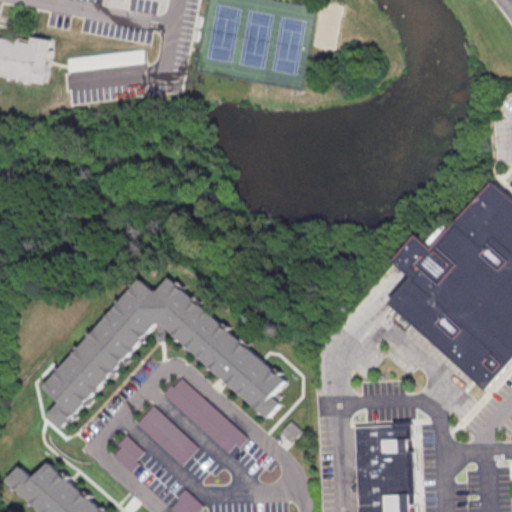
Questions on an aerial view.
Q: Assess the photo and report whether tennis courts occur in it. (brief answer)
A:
Yes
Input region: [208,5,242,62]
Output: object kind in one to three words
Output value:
tennis court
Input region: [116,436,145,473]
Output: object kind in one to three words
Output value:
building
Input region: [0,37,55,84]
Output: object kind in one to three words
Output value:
building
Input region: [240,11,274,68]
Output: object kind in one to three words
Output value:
tennis court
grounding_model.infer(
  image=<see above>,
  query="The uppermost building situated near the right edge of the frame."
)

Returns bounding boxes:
[390,182,512,392]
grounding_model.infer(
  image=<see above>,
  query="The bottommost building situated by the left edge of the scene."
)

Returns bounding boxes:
[2,464,106,512]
